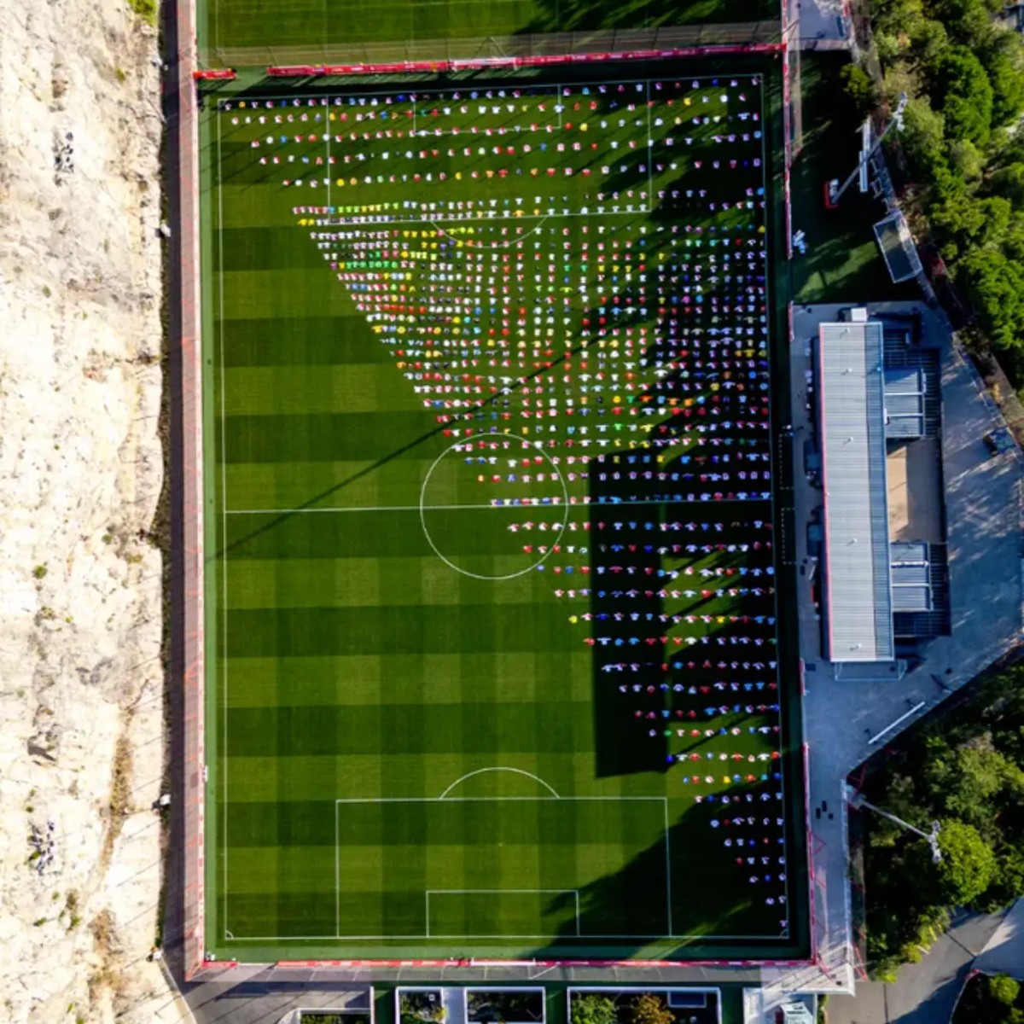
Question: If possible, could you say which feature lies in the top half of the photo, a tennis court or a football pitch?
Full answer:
What appears in the top half of the photo is a football pitch.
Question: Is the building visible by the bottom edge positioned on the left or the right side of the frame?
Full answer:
It is on the right.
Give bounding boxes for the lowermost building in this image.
[739,981,820,1024]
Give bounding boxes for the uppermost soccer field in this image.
[196,0,783,78]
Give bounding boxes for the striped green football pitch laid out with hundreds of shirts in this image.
[197,51,811,962]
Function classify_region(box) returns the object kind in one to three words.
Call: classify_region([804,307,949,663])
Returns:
building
